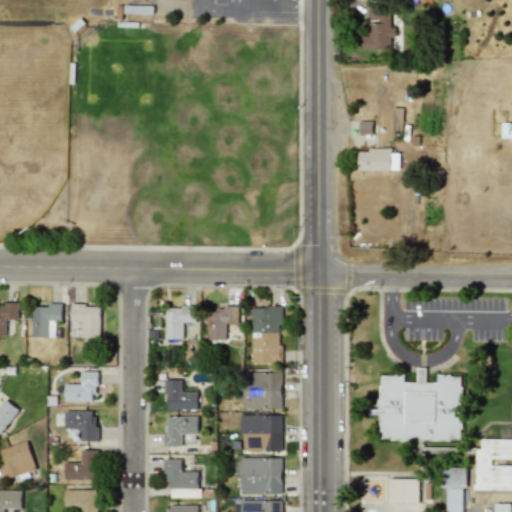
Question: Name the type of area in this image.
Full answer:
The picture captures a residential area.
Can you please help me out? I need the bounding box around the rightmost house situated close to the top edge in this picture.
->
[363,13,399,50]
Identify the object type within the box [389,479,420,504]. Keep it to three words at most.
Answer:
building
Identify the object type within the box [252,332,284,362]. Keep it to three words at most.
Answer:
house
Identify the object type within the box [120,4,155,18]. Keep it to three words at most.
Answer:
building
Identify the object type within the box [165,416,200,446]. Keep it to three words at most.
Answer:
house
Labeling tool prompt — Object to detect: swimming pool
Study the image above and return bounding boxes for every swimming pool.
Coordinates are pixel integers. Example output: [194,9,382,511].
[208,499,216,512]
[192,373,212,383]
[442,3,453,14]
